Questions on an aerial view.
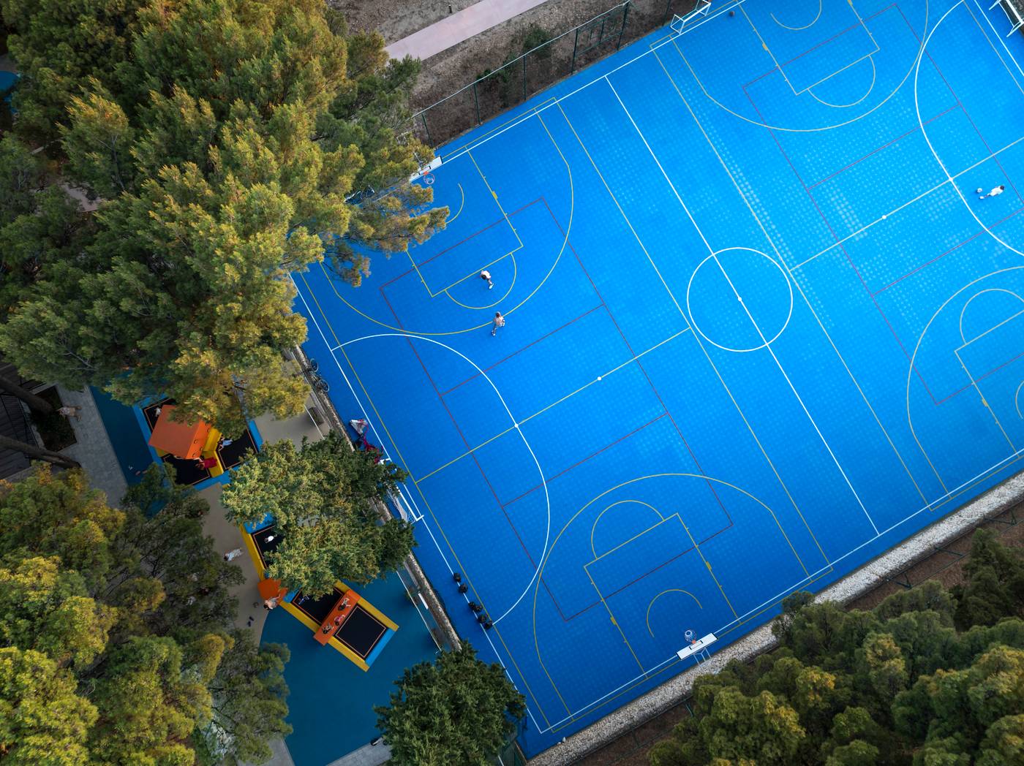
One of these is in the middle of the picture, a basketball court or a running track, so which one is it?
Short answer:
basketball court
